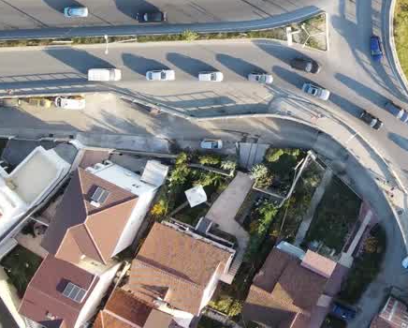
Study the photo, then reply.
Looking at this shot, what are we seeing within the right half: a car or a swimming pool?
car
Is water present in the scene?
No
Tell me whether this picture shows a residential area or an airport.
residential area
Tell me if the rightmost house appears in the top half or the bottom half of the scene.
bottom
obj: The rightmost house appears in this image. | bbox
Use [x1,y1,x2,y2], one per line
[371,292,408,328]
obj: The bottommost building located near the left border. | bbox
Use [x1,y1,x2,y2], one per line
[19,255,131,328]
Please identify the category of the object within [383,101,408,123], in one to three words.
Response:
truck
